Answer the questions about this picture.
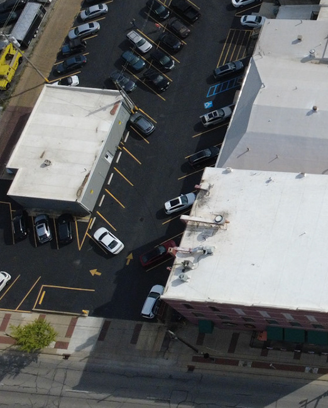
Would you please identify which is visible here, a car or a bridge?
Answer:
car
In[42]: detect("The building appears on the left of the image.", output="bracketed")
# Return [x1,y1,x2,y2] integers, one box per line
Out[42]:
[6,85,133,213]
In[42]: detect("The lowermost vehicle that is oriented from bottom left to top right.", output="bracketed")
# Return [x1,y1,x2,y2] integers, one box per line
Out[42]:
[136,282,165,318]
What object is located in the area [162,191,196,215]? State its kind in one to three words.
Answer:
car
